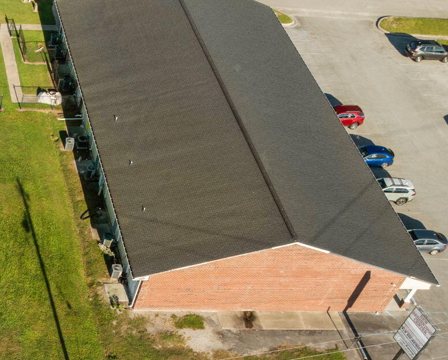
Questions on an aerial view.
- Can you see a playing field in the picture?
No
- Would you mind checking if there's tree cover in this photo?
No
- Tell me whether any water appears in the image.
No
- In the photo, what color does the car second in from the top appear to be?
red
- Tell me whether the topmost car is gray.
Yes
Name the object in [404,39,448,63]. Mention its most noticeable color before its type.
gray car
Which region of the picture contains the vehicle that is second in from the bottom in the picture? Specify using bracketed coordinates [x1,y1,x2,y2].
[374,179,415,207]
